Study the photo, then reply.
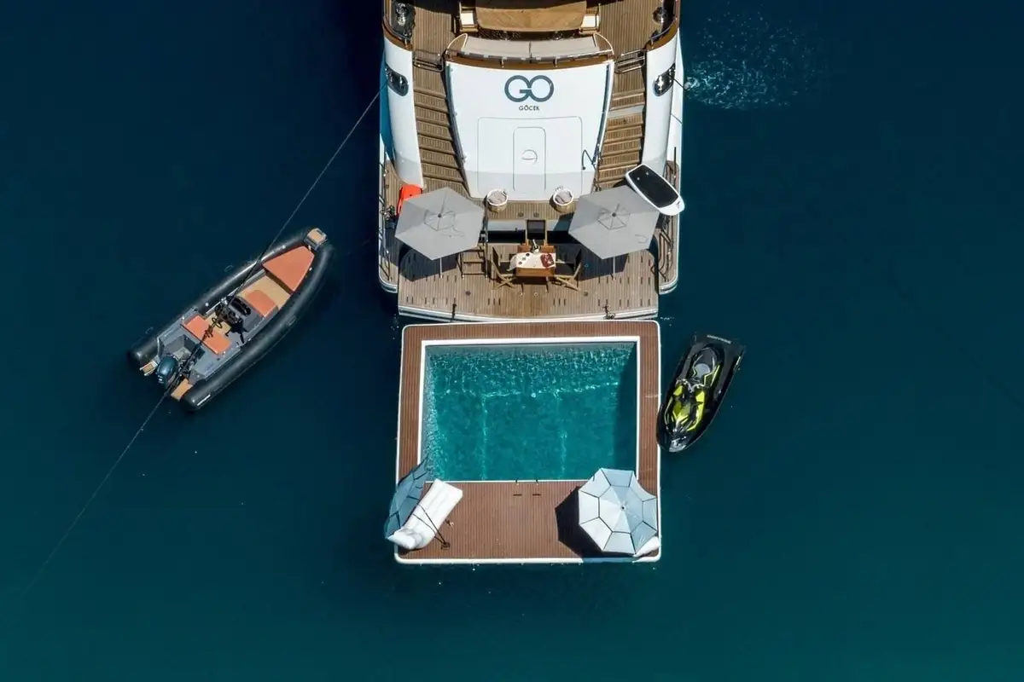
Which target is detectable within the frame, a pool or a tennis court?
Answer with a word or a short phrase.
pool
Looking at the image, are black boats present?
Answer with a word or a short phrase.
Yes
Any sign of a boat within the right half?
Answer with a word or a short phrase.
Yes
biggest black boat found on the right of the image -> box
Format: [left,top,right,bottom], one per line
[660,334,744,453]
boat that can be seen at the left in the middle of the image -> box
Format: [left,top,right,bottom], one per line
[125,226,336,411]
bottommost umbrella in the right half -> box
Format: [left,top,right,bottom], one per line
[577,466,659,556]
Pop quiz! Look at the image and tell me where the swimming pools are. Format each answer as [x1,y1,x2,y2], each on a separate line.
[396,320,661,566]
